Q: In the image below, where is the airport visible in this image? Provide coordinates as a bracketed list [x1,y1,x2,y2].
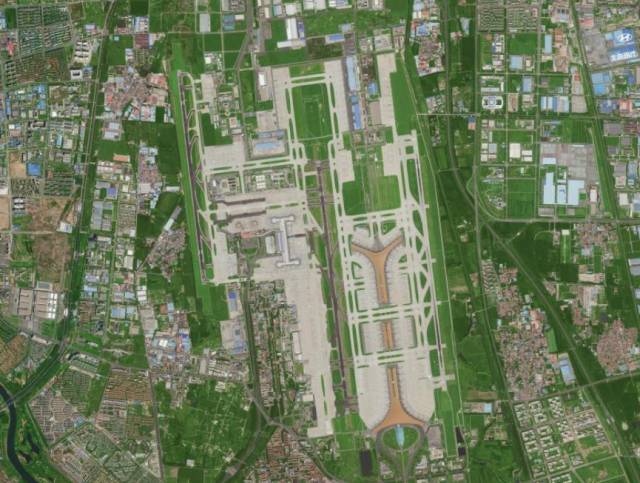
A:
[169,42,467,483]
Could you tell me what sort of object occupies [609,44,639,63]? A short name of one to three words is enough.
building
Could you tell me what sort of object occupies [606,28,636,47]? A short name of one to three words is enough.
building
